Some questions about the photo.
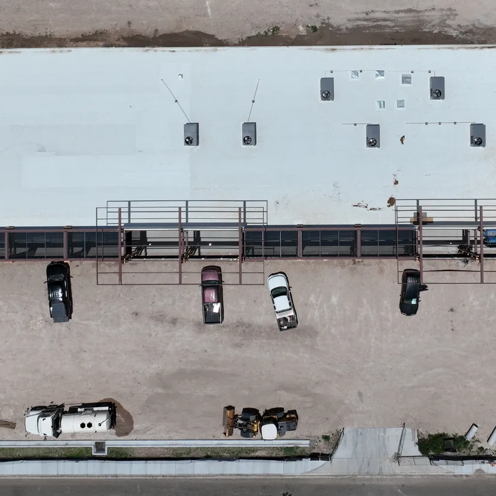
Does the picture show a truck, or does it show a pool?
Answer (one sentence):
I can see a truck in this picture.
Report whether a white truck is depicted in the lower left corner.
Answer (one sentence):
Yes, a white truck can be seen in the lower left corner.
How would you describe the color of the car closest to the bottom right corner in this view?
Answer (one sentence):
From above, the car closest to the bottom right corner appears black.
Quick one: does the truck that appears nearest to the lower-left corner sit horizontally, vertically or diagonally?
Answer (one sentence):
What the image shows is the truck that appears nearest to the lower-left corner lying horizontally.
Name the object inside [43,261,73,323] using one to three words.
truck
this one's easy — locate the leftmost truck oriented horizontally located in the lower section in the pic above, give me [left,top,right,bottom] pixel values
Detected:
[25,404,118,439]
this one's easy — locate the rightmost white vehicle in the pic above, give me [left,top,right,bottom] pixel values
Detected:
[266,269,299,334]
